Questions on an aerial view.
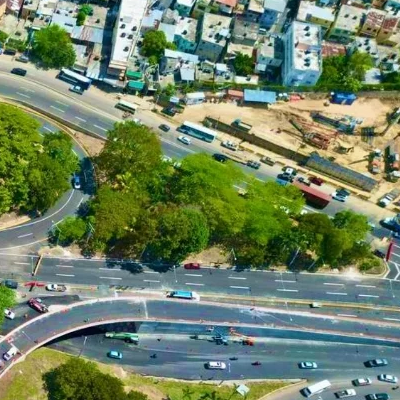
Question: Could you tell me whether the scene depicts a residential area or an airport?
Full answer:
It's a residential area.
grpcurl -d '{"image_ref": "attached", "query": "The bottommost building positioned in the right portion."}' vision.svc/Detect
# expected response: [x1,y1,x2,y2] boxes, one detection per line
[301,152,379,198]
